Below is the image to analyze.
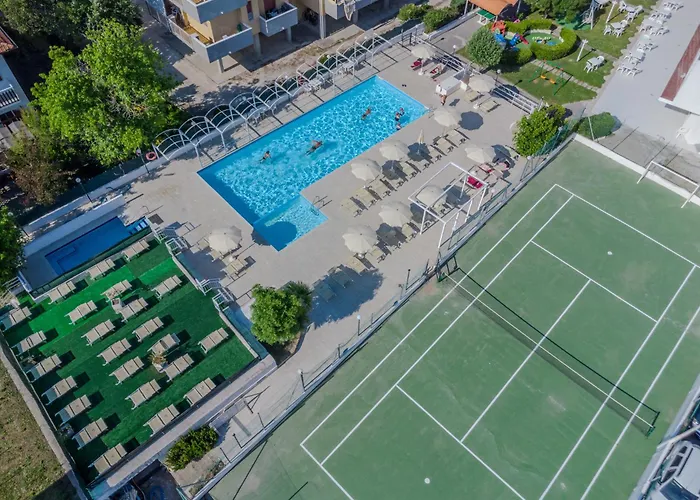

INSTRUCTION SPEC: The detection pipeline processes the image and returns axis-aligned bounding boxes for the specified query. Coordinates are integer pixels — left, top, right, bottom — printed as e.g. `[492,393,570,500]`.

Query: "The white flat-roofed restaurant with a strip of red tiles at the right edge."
[657,19,700,116]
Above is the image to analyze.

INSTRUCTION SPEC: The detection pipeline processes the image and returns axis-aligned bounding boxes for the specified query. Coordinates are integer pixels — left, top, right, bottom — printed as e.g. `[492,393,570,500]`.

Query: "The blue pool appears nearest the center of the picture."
[196,74,435,253]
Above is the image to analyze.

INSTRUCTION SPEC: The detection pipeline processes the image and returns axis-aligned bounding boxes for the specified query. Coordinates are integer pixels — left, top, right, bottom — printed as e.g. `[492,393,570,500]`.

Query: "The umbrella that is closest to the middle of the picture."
[342,226,377,261]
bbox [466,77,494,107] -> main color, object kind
white umbrella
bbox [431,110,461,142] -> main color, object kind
white umbrella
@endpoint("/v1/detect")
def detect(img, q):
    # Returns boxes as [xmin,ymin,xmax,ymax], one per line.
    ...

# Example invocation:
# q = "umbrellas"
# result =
[431,110,461,142]
[416,125,425,155]
[378,142,409,175]
[342,226,377,261]
[410,46,435,75]
[466,77,494,107]
[349,161,381,194]
[464,146,495,179]
[379,203,412,237]
[208,228,245,263]
[412,186,445,220]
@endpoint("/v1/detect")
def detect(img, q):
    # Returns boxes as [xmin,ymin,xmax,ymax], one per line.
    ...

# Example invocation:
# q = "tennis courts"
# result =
[205,141,700,500]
